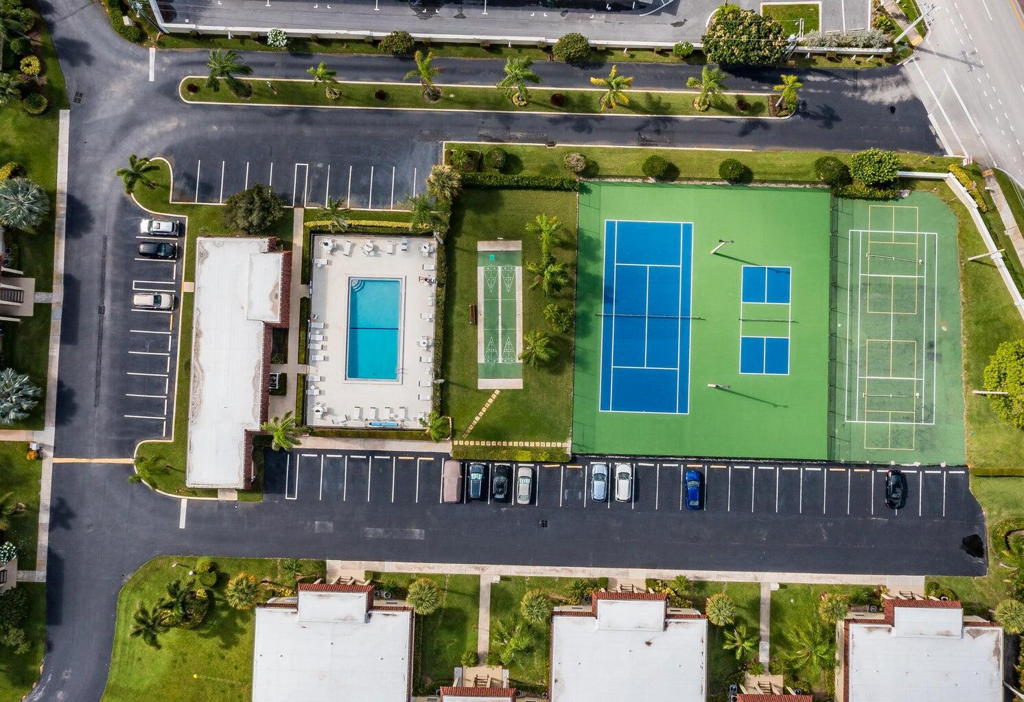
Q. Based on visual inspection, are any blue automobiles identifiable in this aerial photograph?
Yes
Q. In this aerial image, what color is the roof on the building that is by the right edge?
white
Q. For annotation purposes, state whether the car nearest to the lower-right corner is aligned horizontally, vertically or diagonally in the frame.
vertically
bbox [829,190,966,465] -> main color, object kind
green tennis court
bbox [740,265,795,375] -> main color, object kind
blue sports court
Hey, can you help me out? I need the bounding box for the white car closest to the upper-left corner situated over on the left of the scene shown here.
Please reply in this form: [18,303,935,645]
[141,218,180,236]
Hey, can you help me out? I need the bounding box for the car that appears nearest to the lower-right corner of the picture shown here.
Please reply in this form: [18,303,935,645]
[884,469,904,509]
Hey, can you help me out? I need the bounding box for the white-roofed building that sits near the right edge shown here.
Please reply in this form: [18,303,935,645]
[833,585,1010,702]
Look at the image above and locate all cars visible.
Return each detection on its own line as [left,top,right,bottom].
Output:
[684,470,702,510]
[467,463,485,500]
[615,463,633,502]
[141,218,180,236]
[884,469,904,509]
[492,464,510,504]
[516,466,534,505]
[138,241,178,259]
[133,292,174,311]
[589,462,608,502]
